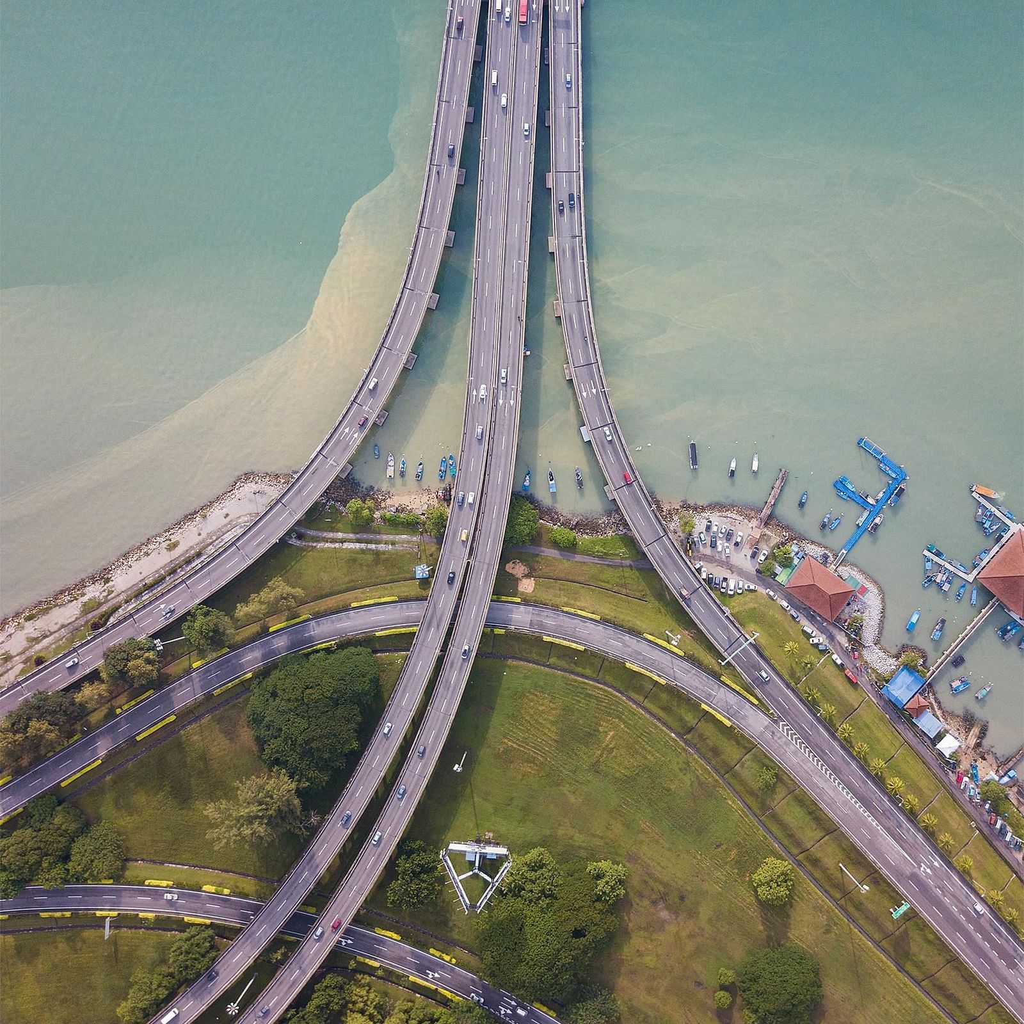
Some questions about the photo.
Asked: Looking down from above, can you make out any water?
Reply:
Yes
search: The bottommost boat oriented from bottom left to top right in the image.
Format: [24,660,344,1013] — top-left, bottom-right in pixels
[1000,769,1018,783]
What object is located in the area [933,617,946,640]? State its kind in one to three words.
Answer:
boat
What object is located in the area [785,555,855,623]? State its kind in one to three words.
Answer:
building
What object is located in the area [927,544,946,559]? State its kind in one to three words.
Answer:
boat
